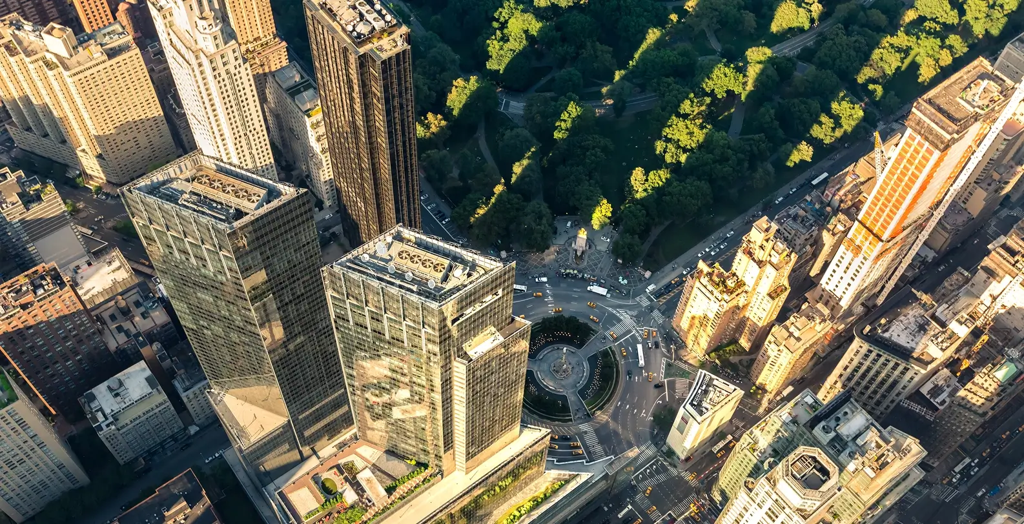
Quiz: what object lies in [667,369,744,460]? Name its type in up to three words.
building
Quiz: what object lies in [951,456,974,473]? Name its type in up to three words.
vehicle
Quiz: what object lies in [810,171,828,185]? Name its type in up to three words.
vehicle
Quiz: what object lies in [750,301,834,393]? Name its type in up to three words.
house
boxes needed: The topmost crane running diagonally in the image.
[875,89,1024,308]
